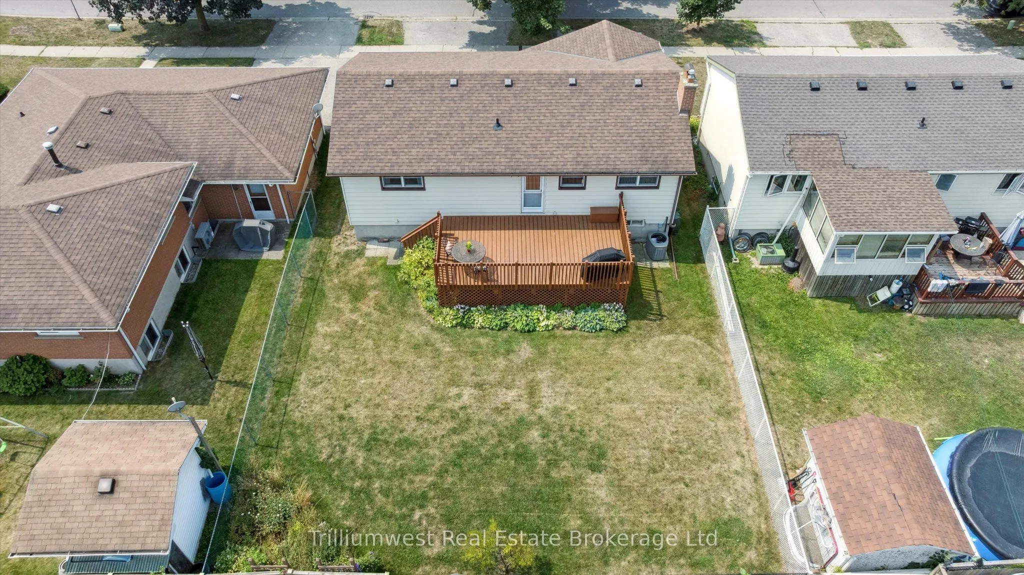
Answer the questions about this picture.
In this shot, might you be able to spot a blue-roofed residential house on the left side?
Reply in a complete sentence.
No, the scene shows no blue-roofed residential house on the left side.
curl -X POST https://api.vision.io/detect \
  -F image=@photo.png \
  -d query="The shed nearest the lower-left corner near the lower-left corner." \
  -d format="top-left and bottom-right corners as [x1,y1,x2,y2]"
[10,418,215,573]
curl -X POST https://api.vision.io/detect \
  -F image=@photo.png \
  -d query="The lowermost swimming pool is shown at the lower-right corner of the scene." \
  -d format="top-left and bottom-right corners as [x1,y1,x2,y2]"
[932,426,1024,564]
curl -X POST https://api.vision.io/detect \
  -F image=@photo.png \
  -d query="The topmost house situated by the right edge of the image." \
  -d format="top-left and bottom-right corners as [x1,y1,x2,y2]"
[695,52,1024,297]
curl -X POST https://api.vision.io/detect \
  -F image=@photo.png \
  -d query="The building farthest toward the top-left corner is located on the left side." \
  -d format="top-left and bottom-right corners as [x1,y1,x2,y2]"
[0,67,334,374]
